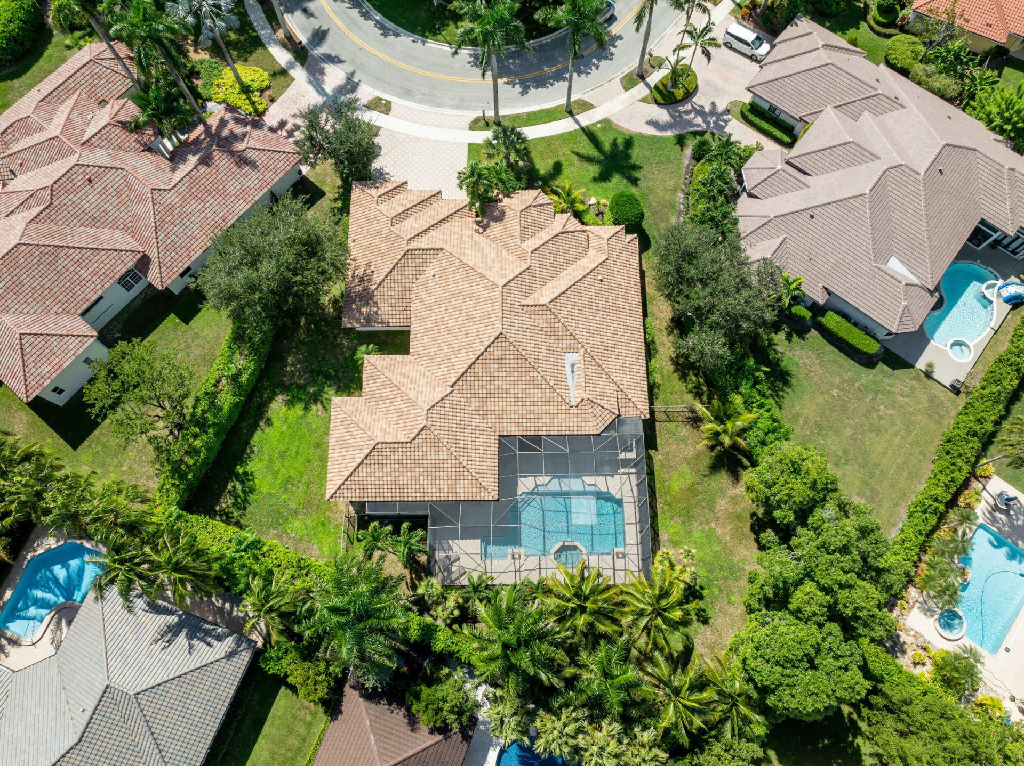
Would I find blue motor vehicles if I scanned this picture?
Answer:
No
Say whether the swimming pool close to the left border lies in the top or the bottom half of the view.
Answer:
bottom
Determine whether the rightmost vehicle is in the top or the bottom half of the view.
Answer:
top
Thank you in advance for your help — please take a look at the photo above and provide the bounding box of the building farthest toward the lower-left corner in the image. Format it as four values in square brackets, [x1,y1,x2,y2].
[0,573,258,766]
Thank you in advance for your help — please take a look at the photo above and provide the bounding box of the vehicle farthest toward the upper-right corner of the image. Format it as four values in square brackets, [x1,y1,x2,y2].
[720,19,773,61]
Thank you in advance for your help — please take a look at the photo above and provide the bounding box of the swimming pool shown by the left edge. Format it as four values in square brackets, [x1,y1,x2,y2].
[0,538,120,643]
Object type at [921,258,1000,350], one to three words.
swimming pool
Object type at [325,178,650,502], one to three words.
house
